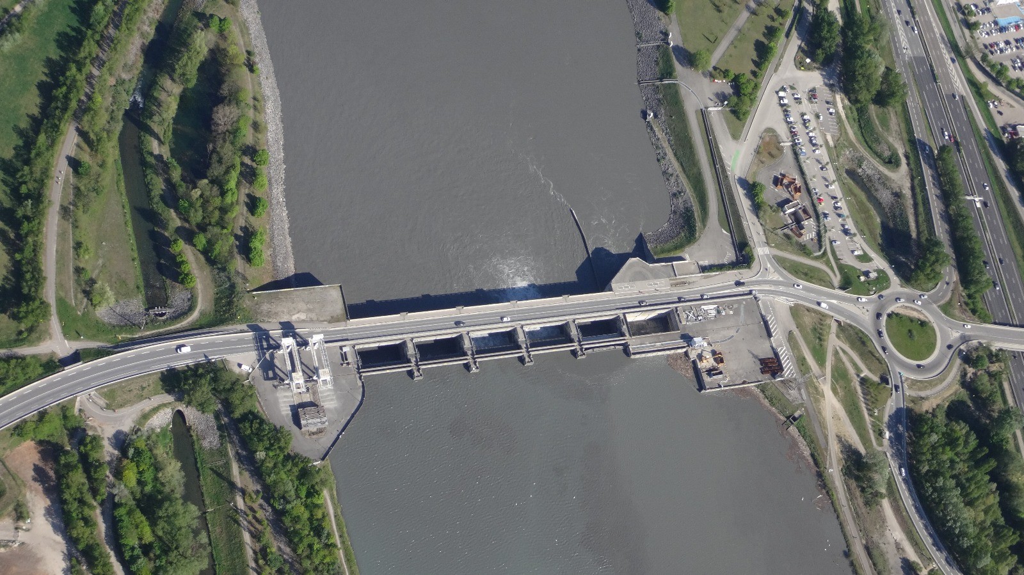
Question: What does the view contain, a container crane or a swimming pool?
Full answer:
The image shows a container crane.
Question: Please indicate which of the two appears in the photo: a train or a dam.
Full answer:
Visible in the photo is a dam.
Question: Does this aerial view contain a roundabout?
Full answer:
Yes, there is a roundabout in the image.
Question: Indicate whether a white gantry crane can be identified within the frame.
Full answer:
Yes, the frame does contain a white gantry crane.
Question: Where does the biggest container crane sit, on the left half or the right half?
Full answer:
You can find the biggest container crane on the left side of the picture.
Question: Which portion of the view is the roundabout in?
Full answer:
The roundabout appears toward the right of the photo.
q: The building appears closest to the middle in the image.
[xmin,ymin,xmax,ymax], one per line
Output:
[602,256,677,294]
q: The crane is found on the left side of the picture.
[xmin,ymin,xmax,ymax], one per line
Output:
[268,332,334,393]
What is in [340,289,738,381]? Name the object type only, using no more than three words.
dam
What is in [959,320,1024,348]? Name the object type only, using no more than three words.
overpass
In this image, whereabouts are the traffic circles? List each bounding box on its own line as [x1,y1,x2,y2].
[856,287,968,379]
